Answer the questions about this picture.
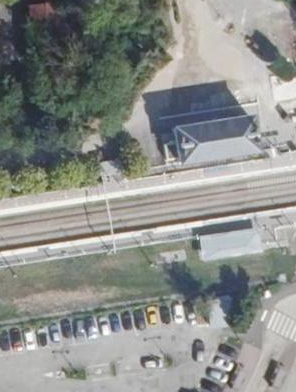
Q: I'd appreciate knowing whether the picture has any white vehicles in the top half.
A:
No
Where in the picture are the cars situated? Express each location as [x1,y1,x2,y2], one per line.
[37,328,47,346]
[207,367,228,382]
[194,340,205,362]
[173,302,184,324]
[160,306,170,326]
[50,322,62,346]
[100,316,110,336]
[200,378,223,392]
[11,328,22,352]
[134,308,146,331]
[213,356,234,372]
[86,317,98,338]
[74,316,86,340]
[60,316,72,340]
[26,330,36,350]
[141,357,162,368]
[0,330,9,353]
[216,342,239,360]
[121,310,132,334]
[110,312,121,334]
[146,306,158,326]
